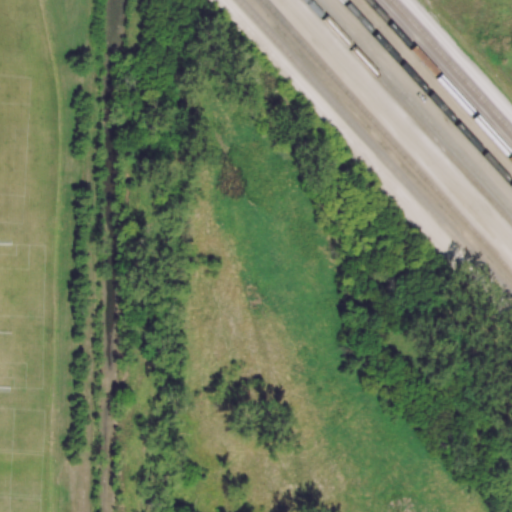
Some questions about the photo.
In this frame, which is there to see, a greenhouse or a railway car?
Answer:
railway car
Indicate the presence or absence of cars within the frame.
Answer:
Yes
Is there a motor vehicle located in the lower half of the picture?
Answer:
No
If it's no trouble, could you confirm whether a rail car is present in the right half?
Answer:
Yes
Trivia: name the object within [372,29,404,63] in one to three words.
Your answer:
rail car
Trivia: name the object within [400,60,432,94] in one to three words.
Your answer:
rail car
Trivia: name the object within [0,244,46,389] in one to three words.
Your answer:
sports field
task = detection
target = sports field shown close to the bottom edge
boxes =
[0,408,46,512]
